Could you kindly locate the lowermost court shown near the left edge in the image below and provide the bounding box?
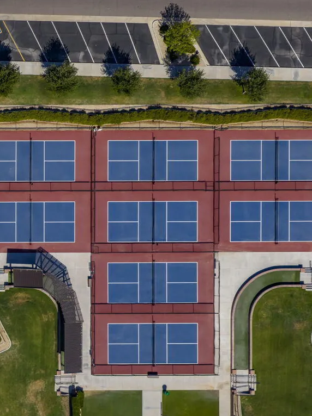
[0,190,93,252]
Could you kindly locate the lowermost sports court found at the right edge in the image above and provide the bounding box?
[216,190,312,252]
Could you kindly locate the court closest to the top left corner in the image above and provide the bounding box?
[0,130,93,189]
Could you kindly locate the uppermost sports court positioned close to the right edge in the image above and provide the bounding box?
[216,130,312,190]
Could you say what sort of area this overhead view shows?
sports ground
